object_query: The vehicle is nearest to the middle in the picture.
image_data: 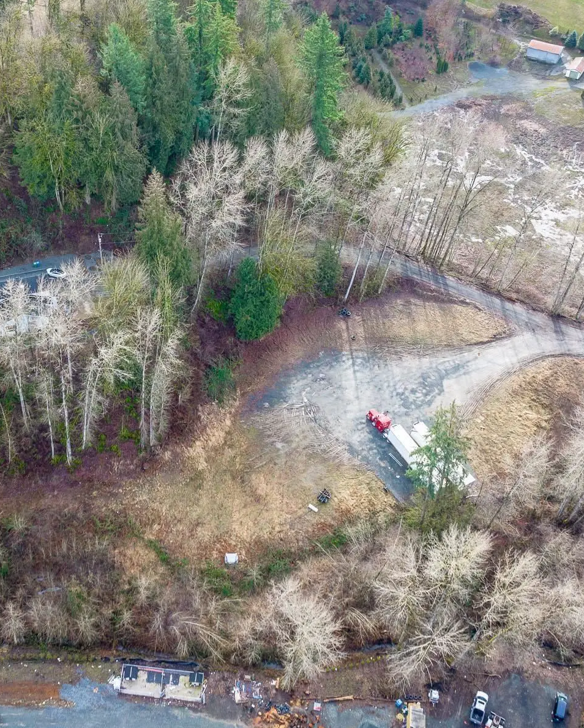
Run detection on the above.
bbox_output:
[366,408,398,435]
